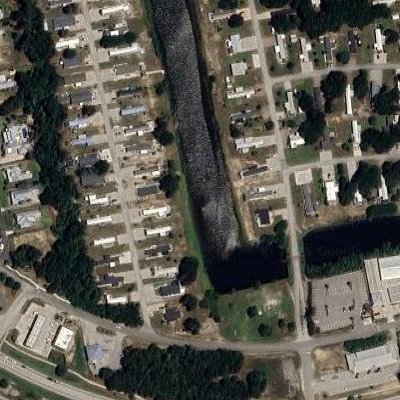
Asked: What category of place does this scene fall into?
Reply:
residential area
